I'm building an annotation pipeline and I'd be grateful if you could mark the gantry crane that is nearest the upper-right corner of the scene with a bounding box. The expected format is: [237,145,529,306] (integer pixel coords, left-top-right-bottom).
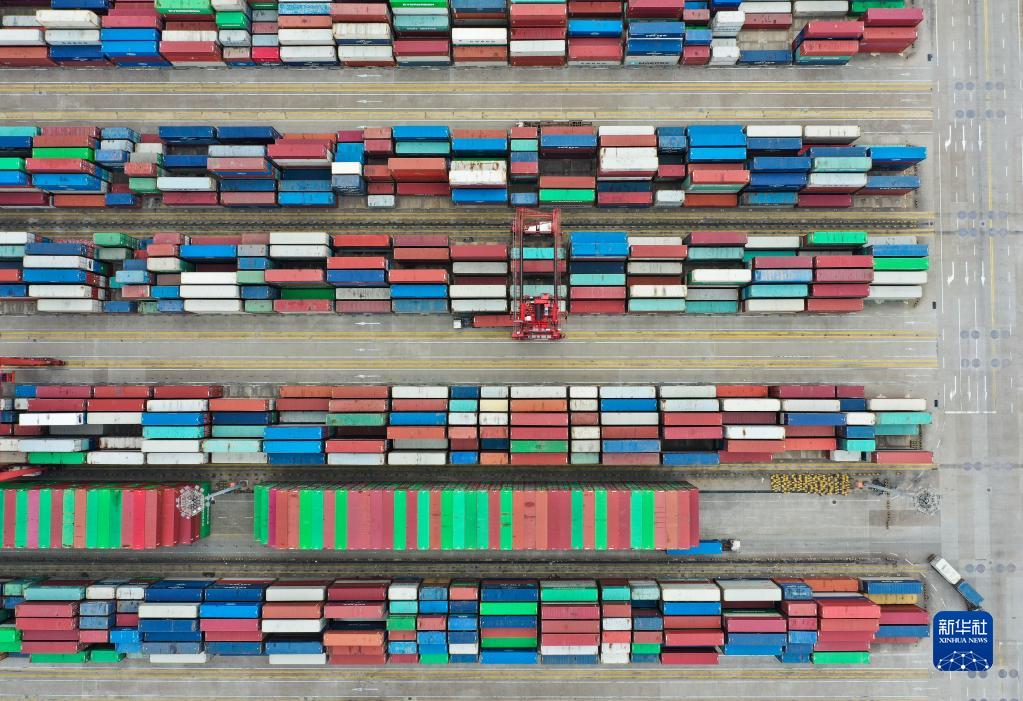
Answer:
[508,206,566,338]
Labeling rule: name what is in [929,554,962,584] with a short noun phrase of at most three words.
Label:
shipping container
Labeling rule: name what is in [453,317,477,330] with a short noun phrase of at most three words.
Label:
vehicle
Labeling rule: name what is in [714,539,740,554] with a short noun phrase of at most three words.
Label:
vehicle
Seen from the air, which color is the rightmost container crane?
red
